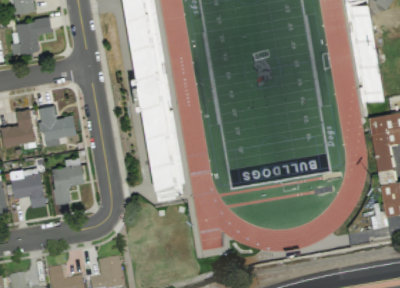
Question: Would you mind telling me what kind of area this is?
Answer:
sports ground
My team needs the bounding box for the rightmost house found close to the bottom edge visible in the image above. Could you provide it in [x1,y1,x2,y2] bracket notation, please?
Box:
[91,255,126,288]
